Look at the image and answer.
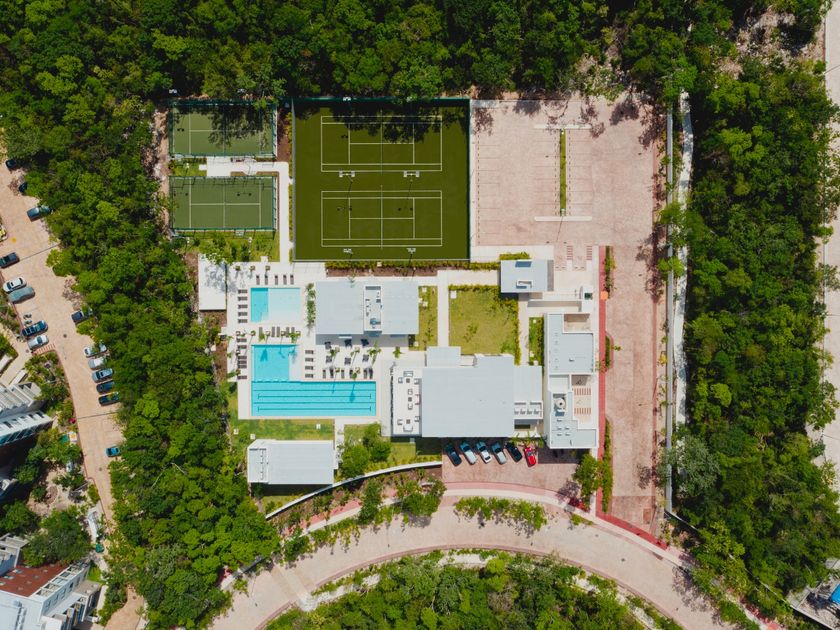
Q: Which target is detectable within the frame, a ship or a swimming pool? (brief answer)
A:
swimming pool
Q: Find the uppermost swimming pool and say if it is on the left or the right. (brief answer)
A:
left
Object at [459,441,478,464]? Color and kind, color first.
white car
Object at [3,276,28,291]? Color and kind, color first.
white car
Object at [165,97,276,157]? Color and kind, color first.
green sports court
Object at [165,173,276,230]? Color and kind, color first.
green sports court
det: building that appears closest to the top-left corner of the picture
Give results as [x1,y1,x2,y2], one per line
[199,254,227,310]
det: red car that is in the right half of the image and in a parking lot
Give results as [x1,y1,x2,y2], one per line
[523,444,538,465]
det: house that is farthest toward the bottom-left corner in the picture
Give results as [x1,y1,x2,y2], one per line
[0,527,103,630]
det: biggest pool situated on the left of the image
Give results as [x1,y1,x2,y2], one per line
[250,344,377,418]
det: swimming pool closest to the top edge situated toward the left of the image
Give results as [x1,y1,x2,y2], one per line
[249,287,302,323]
